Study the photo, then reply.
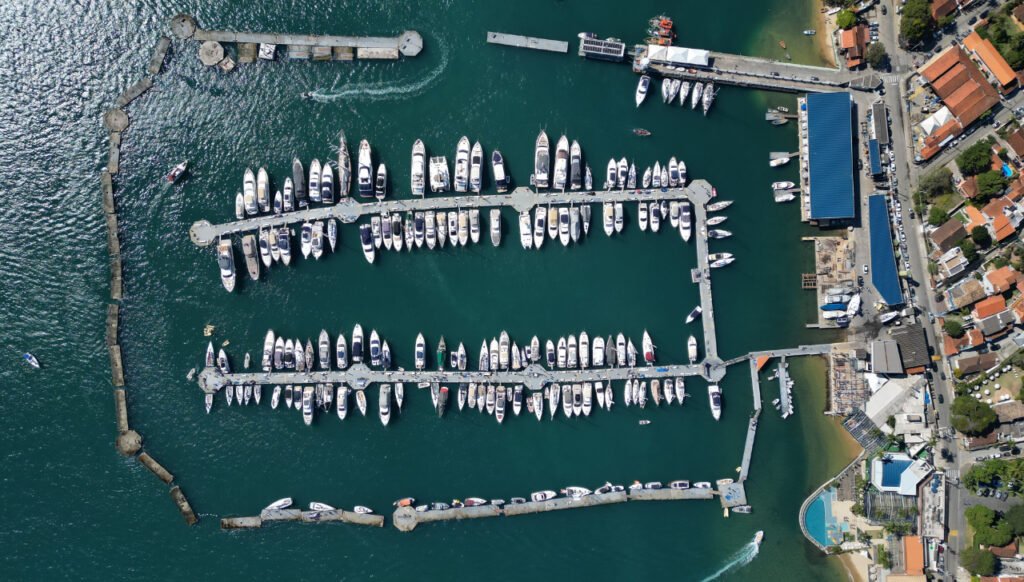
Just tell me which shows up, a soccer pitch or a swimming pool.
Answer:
swimming pool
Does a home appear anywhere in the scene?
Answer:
Yes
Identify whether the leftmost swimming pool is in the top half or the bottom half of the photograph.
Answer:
bottom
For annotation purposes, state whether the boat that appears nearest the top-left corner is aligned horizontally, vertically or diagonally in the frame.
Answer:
diagonally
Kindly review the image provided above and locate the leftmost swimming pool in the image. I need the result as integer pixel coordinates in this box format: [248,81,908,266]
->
[797,449,866,554]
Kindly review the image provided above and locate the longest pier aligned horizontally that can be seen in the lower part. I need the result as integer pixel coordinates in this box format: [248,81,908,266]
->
[199,356,726,393]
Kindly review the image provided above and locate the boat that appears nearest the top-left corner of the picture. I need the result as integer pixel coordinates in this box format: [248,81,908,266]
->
[167,160,188,183]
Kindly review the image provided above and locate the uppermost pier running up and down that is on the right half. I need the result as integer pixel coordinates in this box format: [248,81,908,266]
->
[690,205,718,357]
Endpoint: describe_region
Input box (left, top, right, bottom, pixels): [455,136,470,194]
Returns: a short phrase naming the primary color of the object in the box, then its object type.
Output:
white boat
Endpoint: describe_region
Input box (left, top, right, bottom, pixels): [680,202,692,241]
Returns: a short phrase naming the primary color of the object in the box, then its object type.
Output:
white boat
